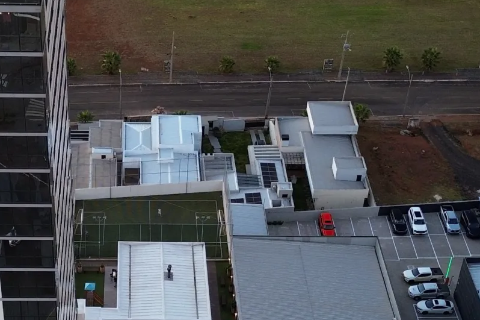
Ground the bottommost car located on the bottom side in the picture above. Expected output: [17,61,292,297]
[417,299,459,315]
